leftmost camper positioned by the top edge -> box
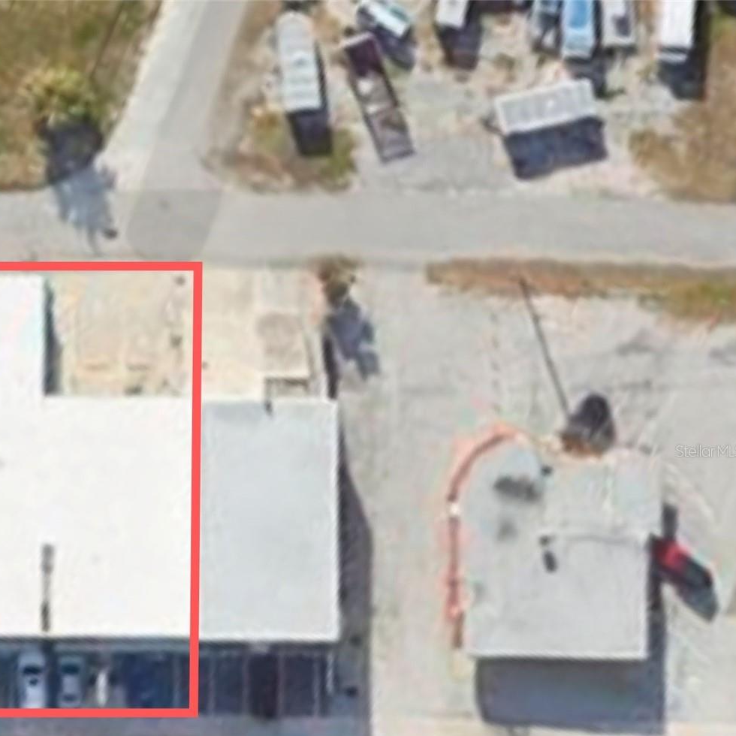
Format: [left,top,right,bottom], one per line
[277,11,320,112]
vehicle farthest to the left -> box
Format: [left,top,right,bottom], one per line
[16,650,47,711]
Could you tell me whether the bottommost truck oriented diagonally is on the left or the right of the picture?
right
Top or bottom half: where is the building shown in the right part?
bottom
